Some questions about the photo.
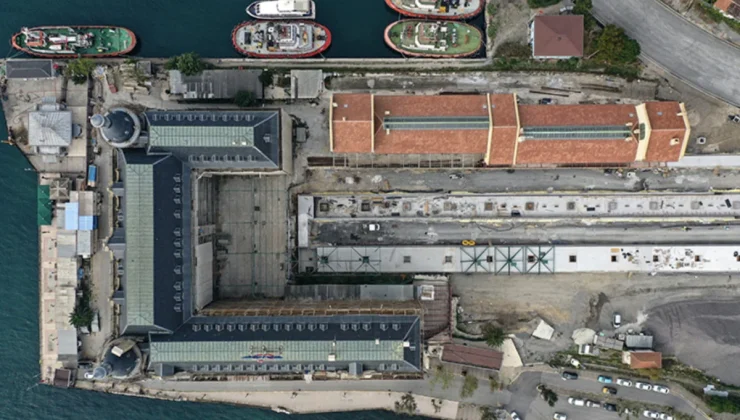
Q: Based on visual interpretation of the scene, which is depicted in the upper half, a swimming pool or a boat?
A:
boat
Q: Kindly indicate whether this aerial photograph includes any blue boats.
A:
No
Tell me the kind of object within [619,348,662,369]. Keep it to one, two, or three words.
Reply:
house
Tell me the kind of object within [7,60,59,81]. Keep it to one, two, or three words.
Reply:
house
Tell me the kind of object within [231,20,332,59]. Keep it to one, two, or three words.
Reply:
boat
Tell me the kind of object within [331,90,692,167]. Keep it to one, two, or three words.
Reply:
building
